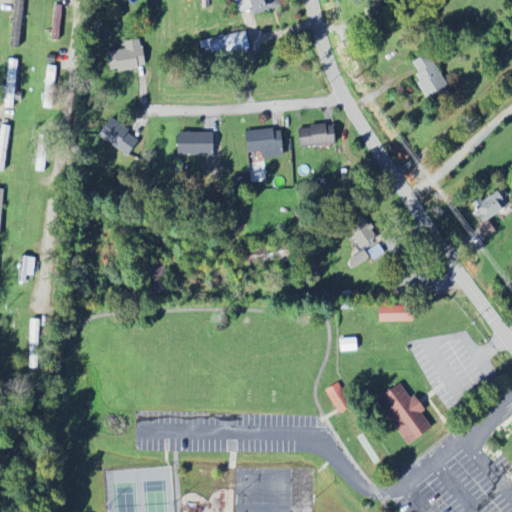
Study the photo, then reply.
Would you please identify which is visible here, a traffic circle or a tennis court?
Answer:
tennis court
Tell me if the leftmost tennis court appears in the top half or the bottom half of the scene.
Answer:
bottom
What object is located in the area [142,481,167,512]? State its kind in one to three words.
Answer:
tennis court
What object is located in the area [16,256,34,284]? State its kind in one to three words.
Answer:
house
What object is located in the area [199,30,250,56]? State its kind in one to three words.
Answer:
house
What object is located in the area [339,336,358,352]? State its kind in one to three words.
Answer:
shed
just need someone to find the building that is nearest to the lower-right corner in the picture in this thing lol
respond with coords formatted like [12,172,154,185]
[380,384,432,444]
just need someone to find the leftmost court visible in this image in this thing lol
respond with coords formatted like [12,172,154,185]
[113,484,138,512]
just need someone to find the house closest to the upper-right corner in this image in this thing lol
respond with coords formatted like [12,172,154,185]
[414,54,449,96]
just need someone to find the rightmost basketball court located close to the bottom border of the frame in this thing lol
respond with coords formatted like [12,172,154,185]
[236,467,292,512]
